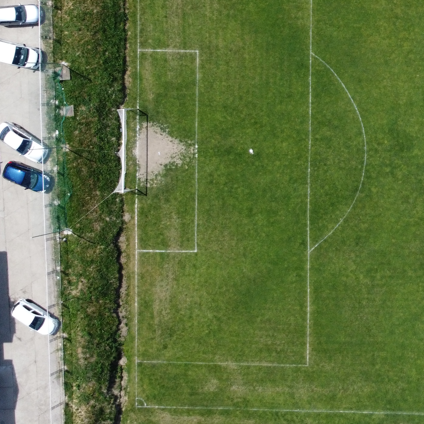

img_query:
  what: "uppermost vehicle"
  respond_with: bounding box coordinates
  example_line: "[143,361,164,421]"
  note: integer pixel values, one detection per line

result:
[0,2,44,26]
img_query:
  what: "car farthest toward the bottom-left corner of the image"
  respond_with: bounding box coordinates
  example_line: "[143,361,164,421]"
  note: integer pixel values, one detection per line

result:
[12,298,60,333]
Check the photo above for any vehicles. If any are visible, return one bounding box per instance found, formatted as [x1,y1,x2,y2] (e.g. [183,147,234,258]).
[4,161,56,191]
[0,122,53,162]
[12,298,60,333]
[0,2,44,26]
[0,39,44,67]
